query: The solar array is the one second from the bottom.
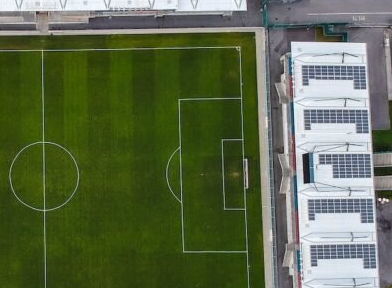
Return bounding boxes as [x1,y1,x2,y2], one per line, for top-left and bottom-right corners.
[309,199,374,222]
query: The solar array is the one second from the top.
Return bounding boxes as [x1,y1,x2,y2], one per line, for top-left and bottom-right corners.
[305,110,369,133]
